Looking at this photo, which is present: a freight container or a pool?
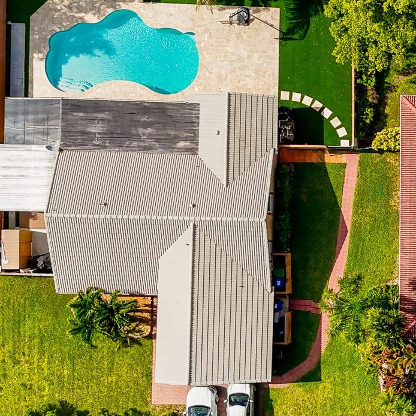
pool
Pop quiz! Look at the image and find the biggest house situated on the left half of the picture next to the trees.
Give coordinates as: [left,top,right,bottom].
[5,91,277,387]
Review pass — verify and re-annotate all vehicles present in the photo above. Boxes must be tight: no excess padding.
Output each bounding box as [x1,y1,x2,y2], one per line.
[219,384,254,416]
[181,387,217,416]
